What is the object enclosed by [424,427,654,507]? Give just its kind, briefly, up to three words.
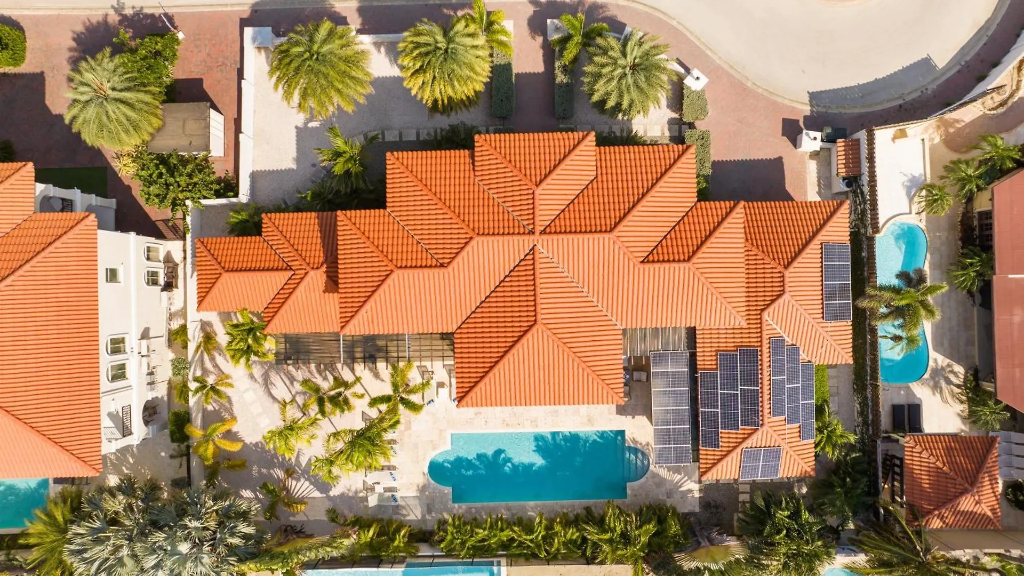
swimming pool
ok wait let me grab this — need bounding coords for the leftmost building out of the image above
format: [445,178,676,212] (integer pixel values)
[0,160,170,478]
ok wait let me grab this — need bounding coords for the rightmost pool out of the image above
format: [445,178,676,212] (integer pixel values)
[877,219,932,386]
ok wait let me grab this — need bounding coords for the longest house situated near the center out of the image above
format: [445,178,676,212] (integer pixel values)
[194,130,854,486]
